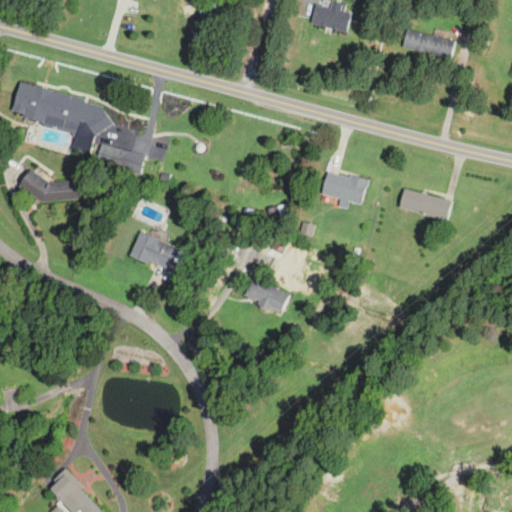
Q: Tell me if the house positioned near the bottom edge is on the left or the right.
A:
left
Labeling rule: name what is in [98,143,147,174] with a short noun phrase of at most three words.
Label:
building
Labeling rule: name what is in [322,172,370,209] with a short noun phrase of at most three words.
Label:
house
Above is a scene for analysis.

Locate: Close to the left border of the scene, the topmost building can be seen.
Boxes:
[12,82,114,154]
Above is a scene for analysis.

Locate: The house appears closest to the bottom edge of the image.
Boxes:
[50,471,104,512]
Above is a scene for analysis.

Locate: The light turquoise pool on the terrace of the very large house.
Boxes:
[42,128,70,148]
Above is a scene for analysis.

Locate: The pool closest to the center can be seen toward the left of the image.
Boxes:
[142,206,164,222]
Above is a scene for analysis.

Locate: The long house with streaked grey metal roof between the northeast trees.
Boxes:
[404,30,456,57]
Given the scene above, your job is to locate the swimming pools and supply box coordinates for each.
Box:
[42,128,70,148]
[142,206,164,222]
